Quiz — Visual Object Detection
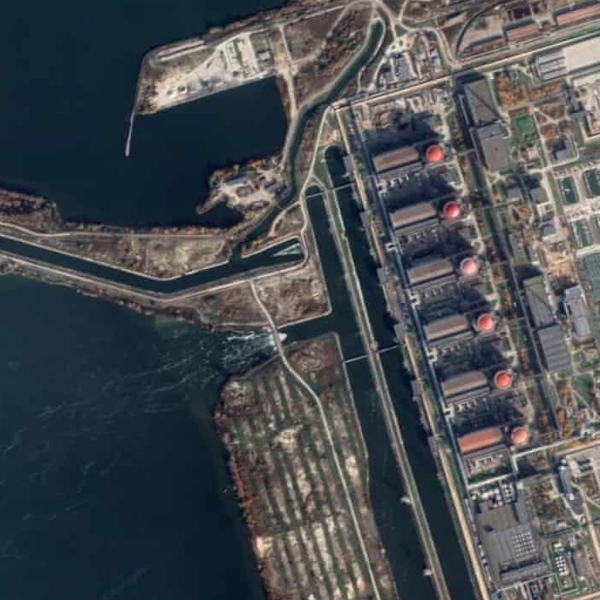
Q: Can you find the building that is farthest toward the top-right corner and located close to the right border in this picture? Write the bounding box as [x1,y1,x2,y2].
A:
[556,4,600,25]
